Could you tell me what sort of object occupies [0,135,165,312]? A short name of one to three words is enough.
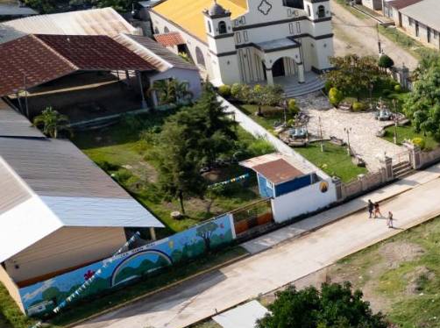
building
